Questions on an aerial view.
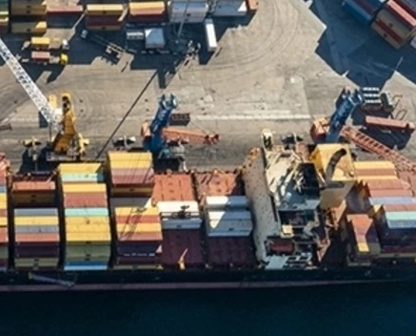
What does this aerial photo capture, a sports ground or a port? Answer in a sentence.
The picture captures a port.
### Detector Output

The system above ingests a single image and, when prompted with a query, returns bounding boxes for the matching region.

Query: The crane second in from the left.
[125,90,226,168]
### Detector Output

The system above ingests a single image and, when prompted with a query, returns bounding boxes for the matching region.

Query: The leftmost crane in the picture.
[0,28,89,170]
